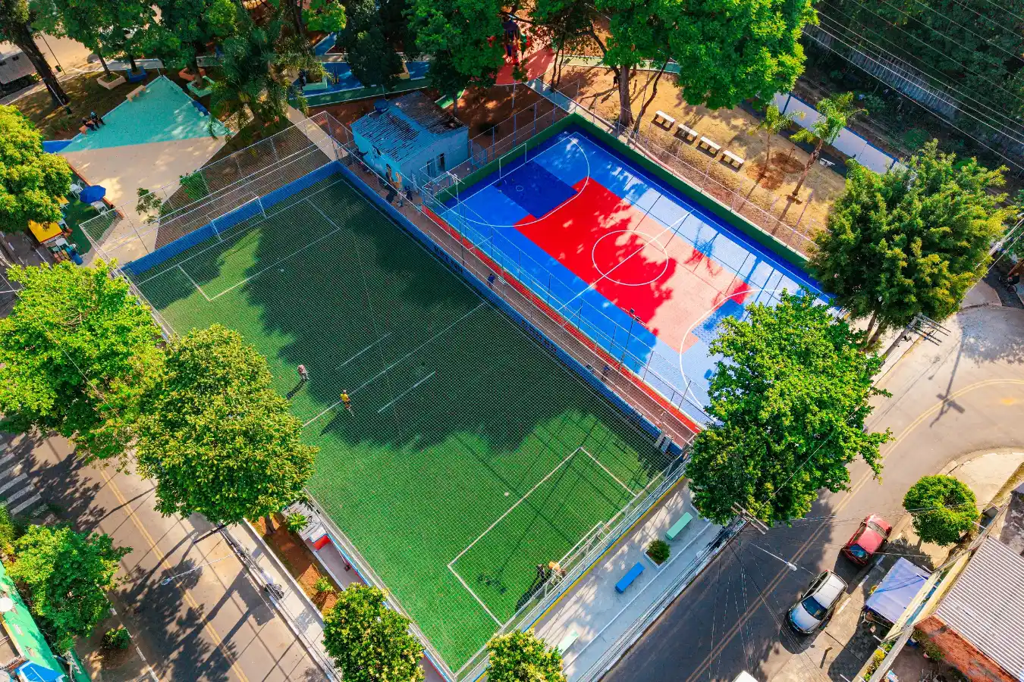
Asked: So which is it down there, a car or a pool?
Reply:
car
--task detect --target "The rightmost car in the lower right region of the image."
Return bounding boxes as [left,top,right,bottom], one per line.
[840,512,894,571]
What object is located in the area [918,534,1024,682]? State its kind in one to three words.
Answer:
house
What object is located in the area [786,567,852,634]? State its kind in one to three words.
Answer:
car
